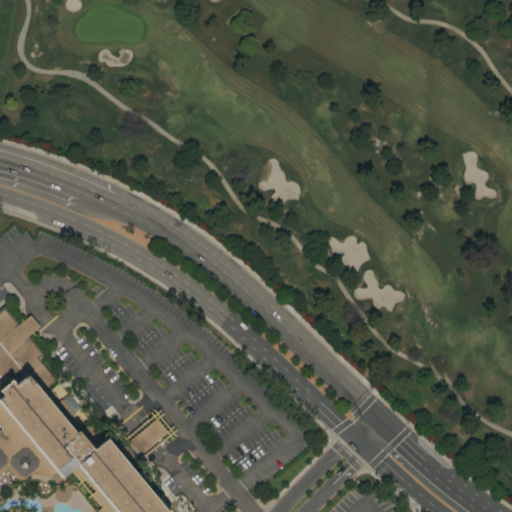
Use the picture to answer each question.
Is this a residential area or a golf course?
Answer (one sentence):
The picture captures a golf course.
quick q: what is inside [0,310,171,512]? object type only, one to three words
building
